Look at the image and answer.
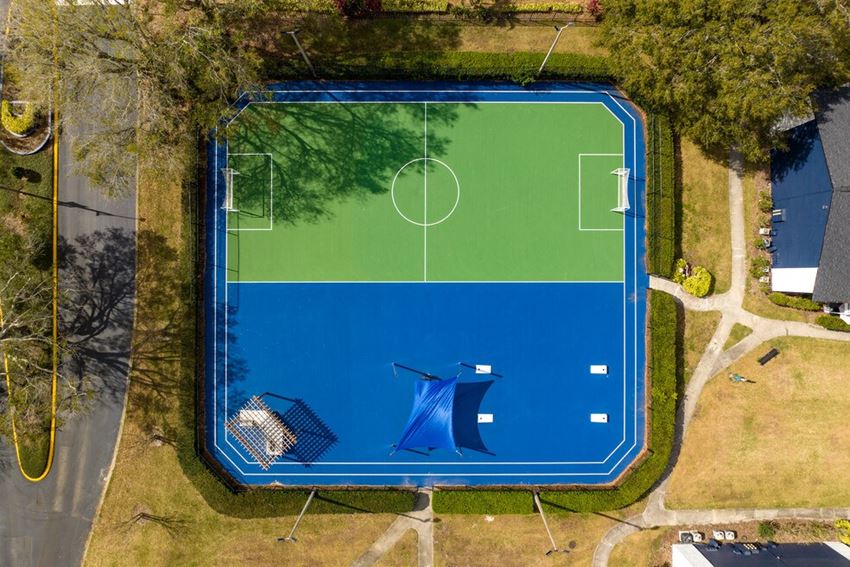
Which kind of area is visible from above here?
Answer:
sports ground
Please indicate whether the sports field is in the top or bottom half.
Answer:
top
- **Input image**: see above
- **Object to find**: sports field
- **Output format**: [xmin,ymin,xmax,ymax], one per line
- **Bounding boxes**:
[227,104,623,282]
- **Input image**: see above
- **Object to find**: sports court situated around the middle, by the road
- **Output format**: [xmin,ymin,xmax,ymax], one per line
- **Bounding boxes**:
[206,81,646,486]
